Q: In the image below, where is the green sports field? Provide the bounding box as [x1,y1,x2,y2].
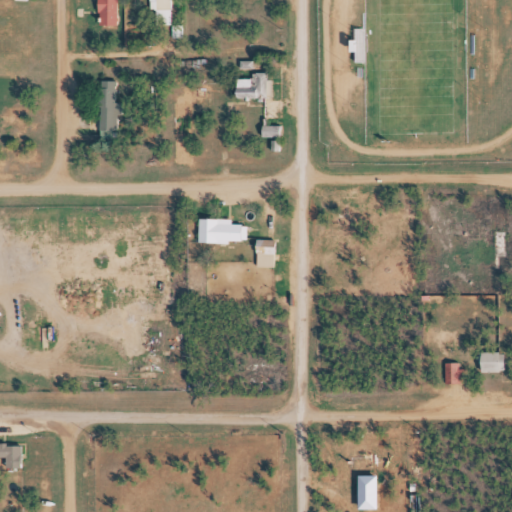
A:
[368,0,466,143]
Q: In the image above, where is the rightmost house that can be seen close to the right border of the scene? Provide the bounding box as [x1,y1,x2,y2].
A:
[480,352,506,373]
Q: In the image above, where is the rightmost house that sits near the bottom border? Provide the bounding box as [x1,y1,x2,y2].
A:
[358,476,380,510]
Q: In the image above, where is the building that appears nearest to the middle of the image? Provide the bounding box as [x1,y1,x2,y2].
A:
[256,240,278,267]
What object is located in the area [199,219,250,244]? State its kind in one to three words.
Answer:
house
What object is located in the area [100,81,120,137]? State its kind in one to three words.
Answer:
house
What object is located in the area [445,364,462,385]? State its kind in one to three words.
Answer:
barn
